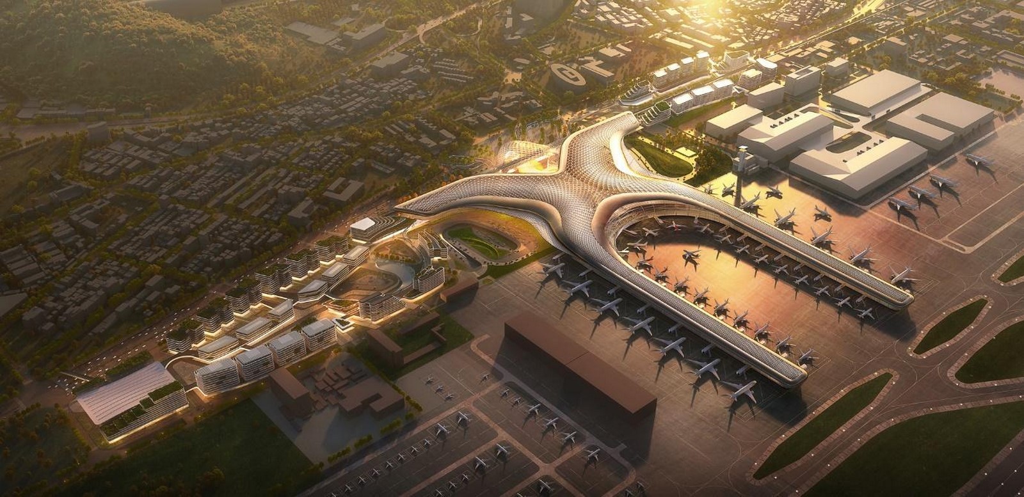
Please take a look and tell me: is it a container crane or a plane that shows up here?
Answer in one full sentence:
It is a plane that can be seen here.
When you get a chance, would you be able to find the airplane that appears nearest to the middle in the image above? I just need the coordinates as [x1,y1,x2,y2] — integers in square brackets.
[541,262,566,276]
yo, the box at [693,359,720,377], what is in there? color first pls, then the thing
gray airplane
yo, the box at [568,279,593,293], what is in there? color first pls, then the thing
gray airplane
